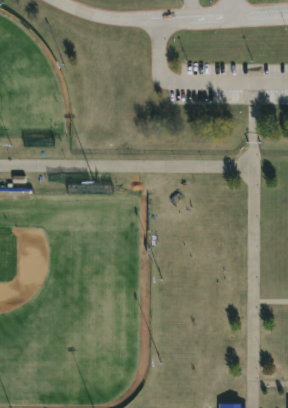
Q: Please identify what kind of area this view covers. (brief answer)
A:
sports ground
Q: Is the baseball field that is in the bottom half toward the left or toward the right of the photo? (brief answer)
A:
left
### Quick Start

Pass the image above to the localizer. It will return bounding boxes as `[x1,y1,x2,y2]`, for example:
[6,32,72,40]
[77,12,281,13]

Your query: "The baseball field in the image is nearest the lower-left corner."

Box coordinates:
[0,191,148,408]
